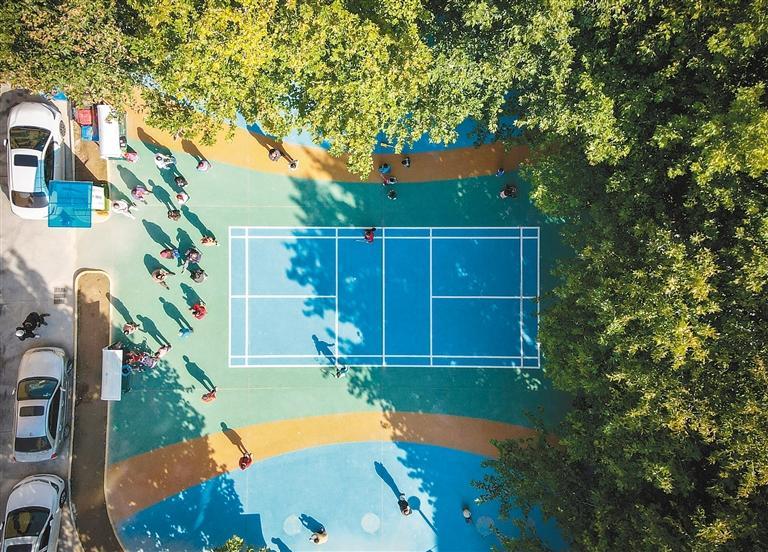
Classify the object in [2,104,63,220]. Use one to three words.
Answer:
car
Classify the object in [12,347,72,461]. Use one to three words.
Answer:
car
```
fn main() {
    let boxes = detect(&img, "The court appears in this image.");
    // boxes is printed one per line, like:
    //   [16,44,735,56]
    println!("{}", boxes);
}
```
[229,226,540,367]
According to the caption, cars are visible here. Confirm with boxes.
[5,472,66,552]
[2,104,63,220]
[12,347,72,461]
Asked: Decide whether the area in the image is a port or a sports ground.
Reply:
sports ground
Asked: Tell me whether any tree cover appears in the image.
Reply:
Yes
